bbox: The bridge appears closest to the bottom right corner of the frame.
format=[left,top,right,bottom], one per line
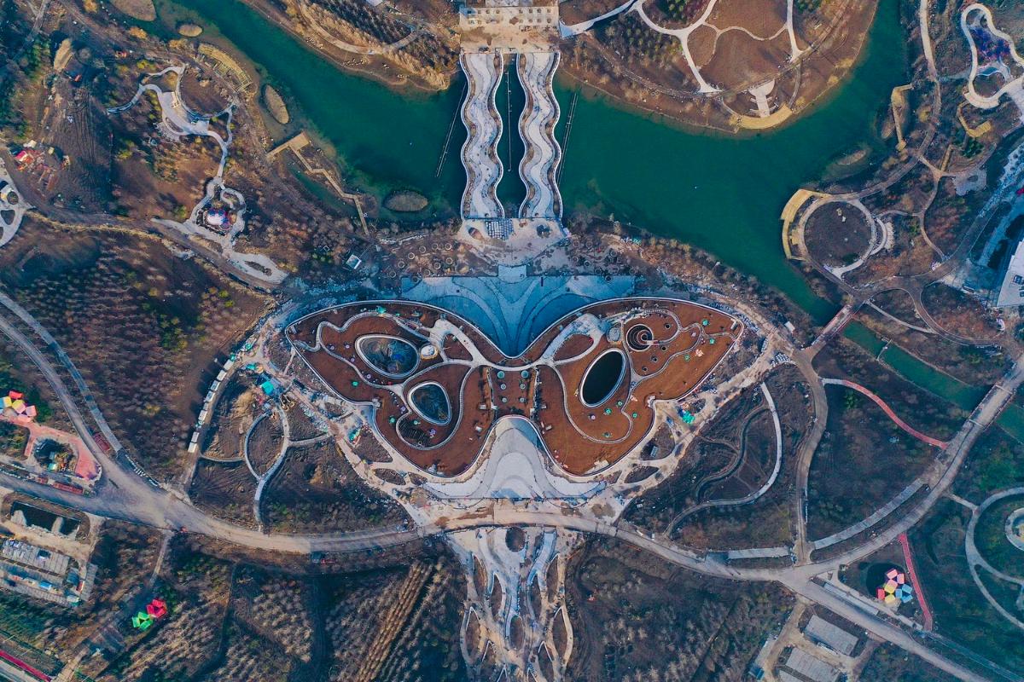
[960,376,1008,428]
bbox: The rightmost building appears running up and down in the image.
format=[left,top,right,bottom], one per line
[988,239,1024,307]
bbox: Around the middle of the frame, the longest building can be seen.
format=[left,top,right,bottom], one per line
[286,298,743,476]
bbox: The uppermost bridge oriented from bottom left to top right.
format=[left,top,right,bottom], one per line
[813,297,857,347]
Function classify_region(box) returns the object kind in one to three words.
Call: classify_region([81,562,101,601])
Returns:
shed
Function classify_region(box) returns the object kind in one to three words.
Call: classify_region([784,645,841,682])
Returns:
shed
